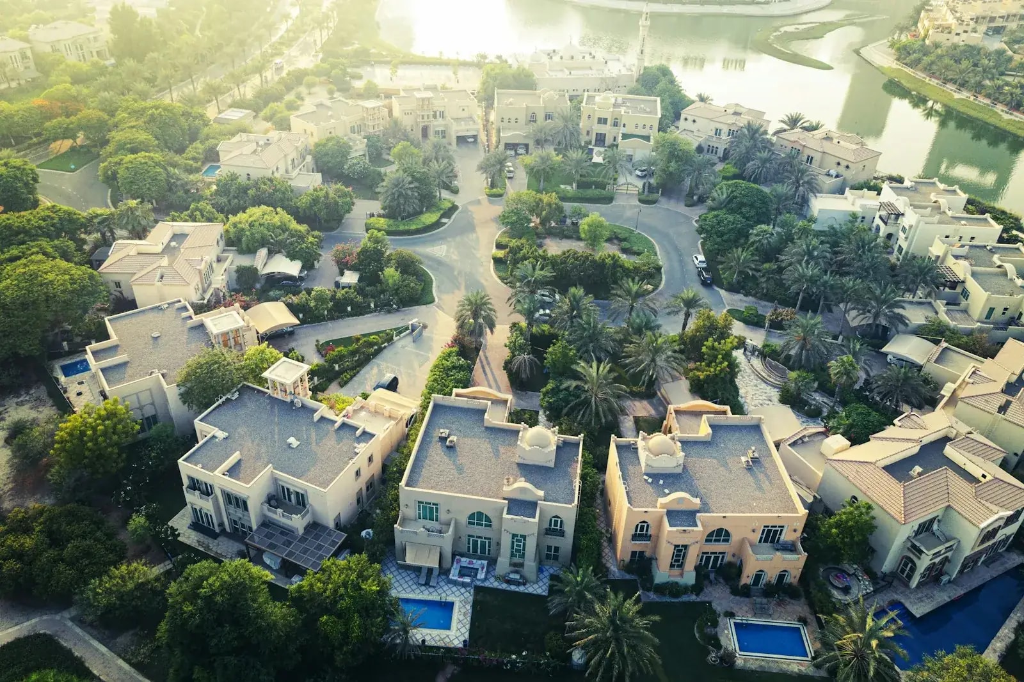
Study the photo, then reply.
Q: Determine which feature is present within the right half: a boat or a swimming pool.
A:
swimming pool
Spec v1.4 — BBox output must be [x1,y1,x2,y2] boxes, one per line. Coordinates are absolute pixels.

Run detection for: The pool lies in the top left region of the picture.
[197,163,222,177]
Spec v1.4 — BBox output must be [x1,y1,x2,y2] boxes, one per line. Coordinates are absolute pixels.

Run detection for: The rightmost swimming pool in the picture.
[870,556,1024,673]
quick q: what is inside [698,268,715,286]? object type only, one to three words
car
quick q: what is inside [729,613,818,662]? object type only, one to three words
swimming pool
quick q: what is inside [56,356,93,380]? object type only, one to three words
swimming pool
